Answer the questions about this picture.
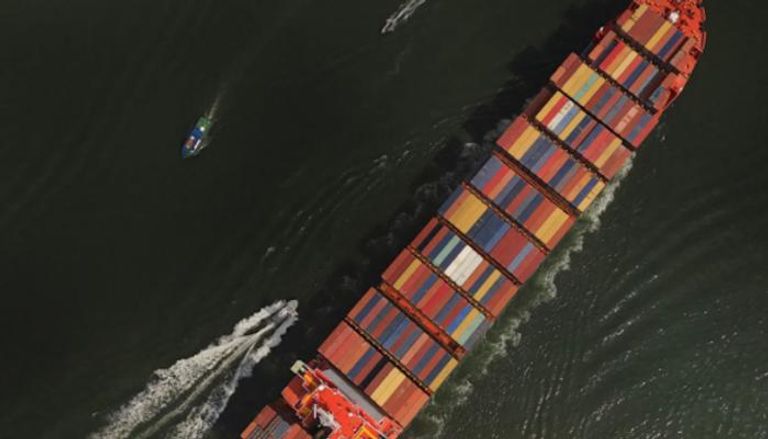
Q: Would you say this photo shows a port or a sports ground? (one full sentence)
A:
This looks like a port.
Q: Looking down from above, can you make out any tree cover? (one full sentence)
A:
No, the picture contains no tree cover.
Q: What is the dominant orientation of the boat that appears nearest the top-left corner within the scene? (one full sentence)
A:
In this picture, the boat that appears nearest the top-left corner is oriented on a diagonal.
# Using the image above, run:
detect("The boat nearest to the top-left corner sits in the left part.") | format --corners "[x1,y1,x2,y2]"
[181,113,212,157]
